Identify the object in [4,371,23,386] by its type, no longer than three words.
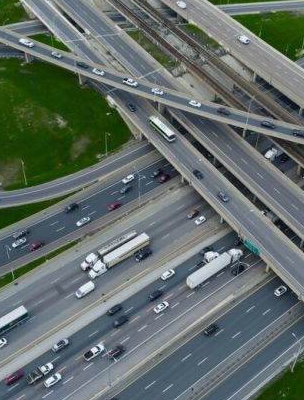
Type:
car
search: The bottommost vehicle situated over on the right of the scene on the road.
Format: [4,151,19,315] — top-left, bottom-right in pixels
[202,324,218,338]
